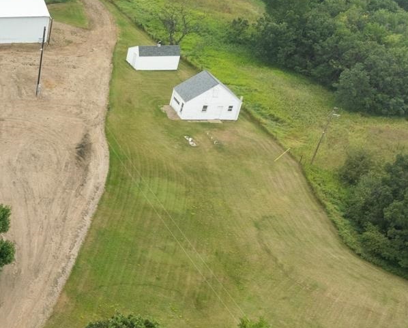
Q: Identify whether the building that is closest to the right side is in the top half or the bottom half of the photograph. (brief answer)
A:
top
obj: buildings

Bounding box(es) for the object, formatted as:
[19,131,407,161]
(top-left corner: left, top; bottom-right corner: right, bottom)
[0,0,54,44]
[166,68,242,120]
[127,38,180,69]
